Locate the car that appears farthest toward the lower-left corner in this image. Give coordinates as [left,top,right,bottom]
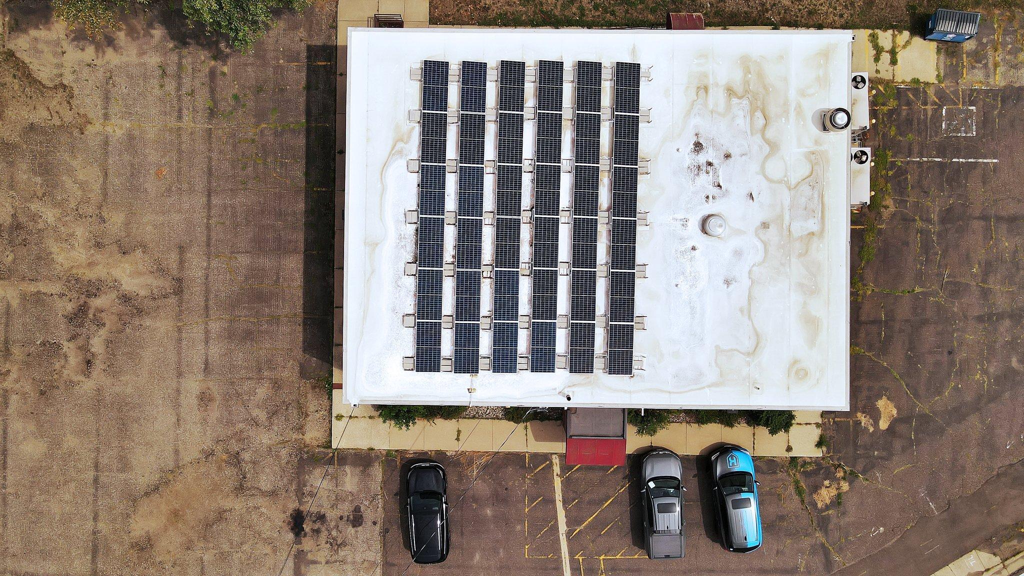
[401,461,453,565]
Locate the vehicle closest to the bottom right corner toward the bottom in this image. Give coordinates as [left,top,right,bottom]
[707,443,762,554]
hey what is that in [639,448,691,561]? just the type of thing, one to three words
vehicle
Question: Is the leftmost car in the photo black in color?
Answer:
Yes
